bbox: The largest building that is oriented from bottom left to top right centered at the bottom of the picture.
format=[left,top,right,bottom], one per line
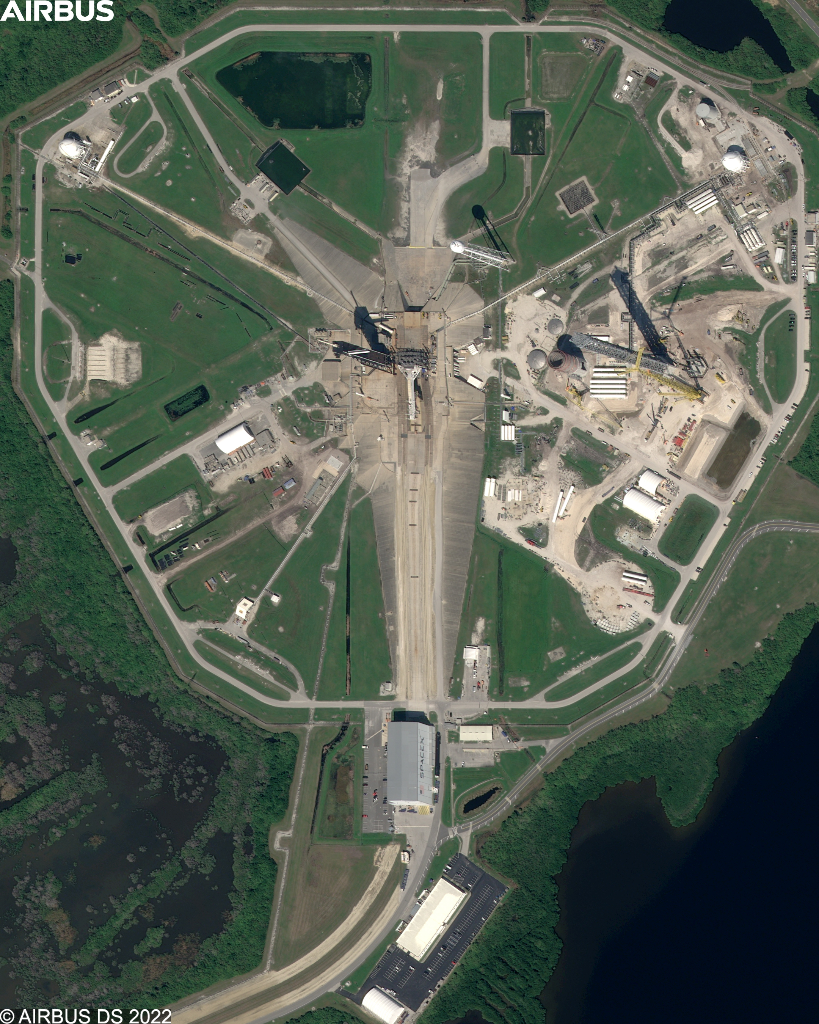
[396,878,470,960]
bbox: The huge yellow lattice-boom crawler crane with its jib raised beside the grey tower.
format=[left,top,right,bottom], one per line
[617,343,710,406]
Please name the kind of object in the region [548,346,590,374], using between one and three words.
storage tank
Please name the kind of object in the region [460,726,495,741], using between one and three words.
building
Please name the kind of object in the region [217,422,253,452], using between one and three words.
building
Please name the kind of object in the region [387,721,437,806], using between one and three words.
hangar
